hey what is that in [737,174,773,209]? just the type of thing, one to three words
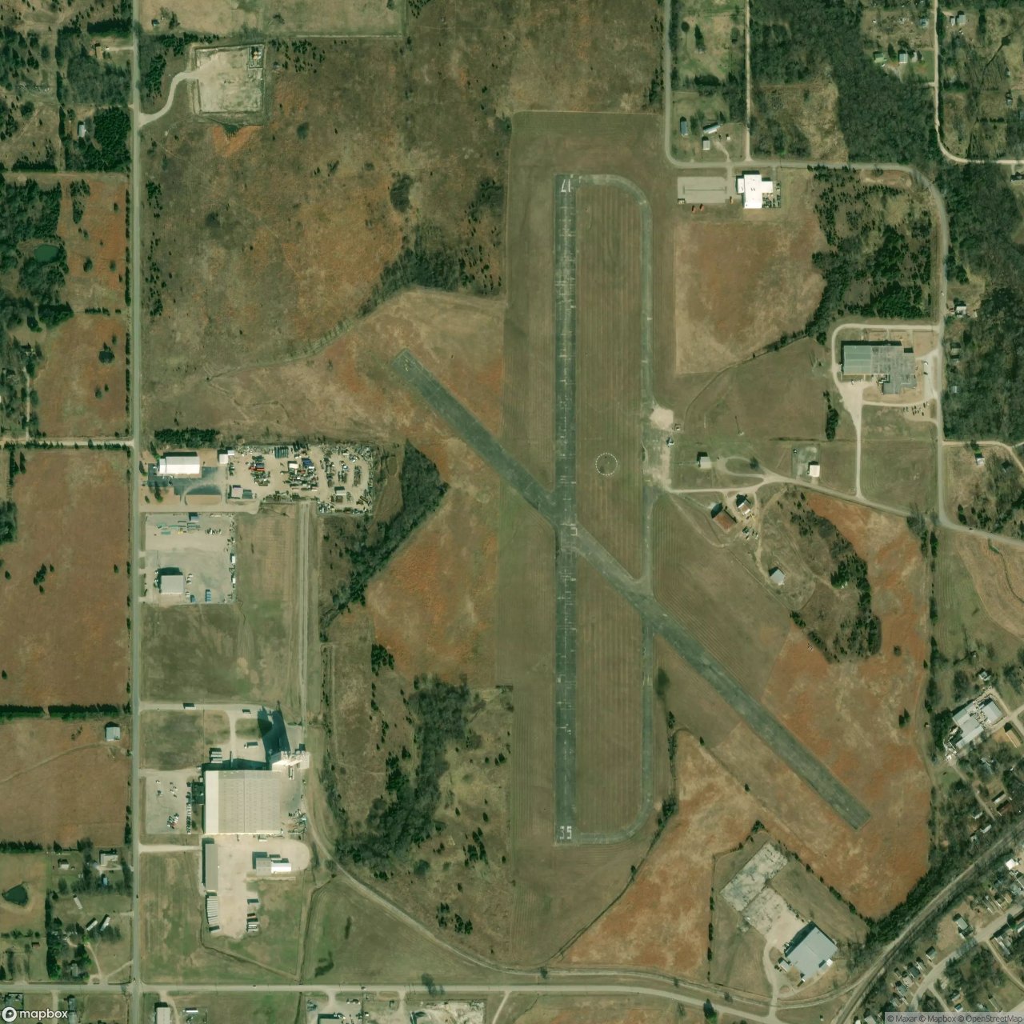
building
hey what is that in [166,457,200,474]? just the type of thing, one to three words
building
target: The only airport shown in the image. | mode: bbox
[390,174,872,845]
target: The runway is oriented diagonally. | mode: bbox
[390,350,872,830]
